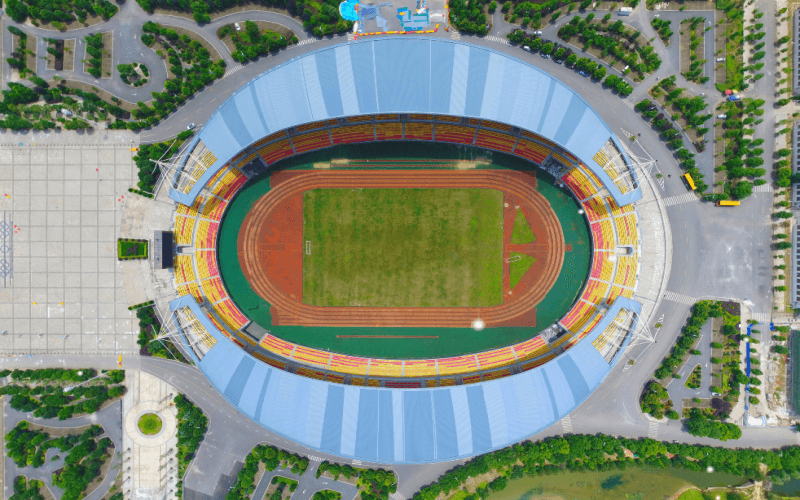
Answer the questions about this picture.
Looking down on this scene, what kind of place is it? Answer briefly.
sports ground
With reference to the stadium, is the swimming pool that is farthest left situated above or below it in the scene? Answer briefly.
above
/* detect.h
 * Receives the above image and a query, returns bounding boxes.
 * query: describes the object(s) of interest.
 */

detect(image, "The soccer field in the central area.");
[302,188,503,307]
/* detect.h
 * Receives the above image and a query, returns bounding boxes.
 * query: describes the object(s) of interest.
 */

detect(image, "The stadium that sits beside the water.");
[148,37,660,465]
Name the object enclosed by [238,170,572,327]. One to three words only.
running track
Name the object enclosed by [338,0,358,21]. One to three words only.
swimming pool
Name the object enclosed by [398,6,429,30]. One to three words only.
building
